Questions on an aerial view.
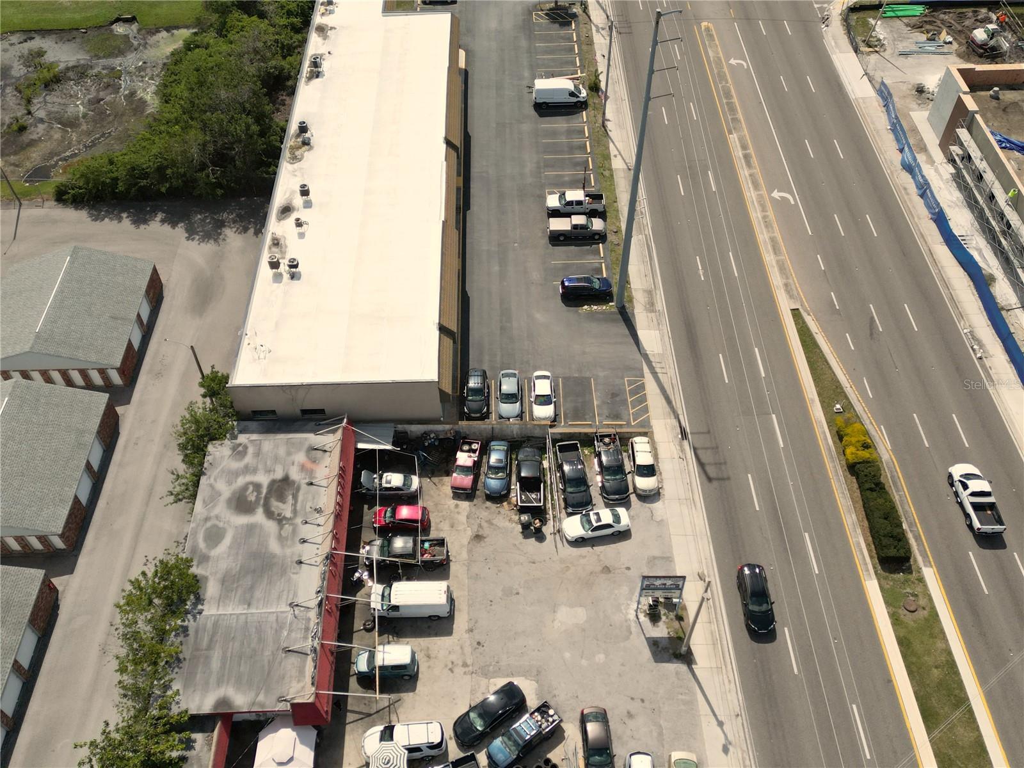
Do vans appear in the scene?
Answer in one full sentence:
Yes, you can see a van in this photo.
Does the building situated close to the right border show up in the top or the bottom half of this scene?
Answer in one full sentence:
The building situated close to the right border is in the top half of the image.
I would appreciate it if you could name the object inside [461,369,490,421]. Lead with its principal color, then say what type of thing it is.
black car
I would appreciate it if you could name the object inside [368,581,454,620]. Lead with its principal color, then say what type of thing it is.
white van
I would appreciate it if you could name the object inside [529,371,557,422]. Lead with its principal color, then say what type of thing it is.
white car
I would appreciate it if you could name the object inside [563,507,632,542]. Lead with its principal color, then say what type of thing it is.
white car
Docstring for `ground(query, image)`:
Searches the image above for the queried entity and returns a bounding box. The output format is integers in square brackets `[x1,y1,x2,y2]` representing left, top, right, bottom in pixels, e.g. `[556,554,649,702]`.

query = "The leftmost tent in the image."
[256,726,326,768]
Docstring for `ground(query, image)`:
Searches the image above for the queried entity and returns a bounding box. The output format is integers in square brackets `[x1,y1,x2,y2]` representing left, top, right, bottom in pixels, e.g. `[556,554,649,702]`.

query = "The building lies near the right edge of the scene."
[914,63,1024,274]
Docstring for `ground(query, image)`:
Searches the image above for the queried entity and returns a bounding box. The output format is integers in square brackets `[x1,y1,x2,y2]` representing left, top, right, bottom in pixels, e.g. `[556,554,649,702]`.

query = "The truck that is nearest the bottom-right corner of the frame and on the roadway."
[951,465,1008,538]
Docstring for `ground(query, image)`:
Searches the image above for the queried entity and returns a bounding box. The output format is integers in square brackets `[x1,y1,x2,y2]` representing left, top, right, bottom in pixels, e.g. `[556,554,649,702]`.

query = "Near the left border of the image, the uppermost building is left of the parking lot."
[0,253,160,389]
